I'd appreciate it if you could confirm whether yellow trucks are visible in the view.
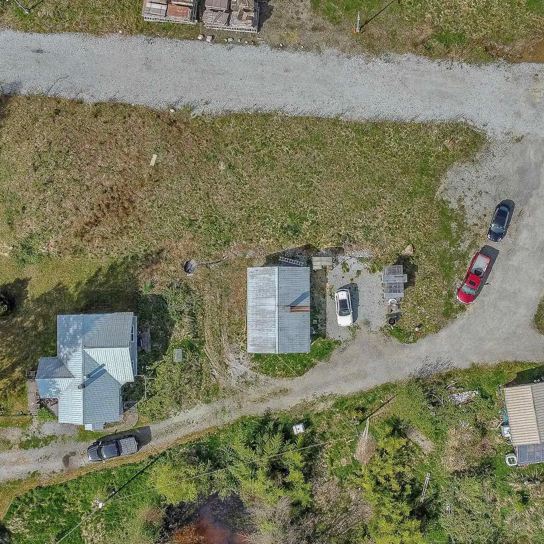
No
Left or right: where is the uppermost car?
right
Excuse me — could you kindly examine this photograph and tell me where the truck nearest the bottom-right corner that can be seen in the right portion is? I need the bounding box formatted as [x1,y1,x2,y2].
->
[457,250,491,303]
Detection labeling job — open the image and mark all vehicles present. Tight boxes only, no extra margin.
[88,433,140,461]
[486,202,511,243]
[334,288,355,327]
[457,250,491,303]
